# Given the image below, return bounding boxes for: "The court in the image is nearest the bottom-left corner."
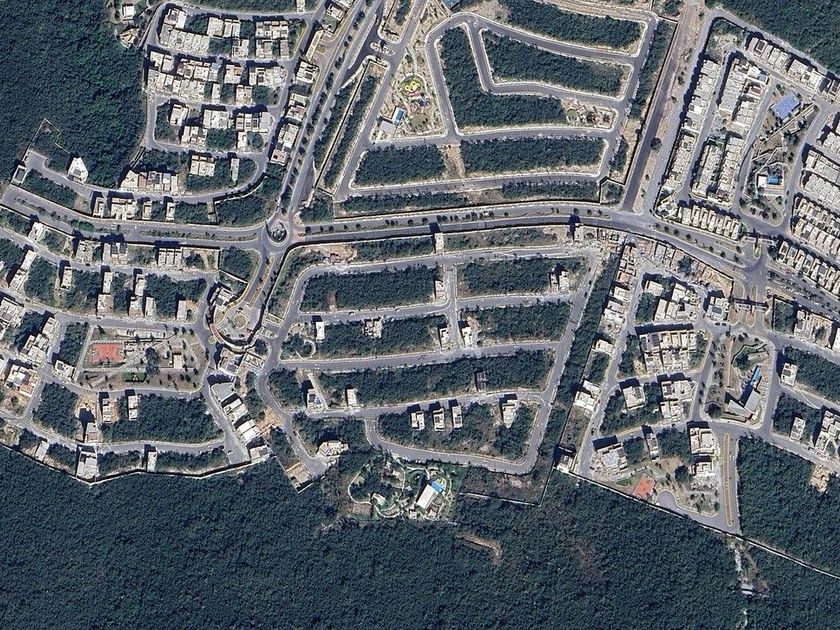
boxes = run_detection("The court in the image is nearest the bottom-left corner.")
[85,341,126,367]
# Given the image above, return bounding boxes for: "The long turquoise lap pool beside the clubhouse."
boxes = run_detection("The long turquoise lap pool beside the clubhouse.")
[748,364,766,390]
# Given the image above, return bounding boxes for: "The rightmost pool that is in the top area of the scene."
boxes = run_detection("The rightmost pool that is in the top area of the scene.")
[758,175,783,191]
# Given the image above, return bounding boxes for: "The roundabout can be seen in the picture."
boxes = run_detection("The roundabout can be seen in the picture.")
[259,215,296,253]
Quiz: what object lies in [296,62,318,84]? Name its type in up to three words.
house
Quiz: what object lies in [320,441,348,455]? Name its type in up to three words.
house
